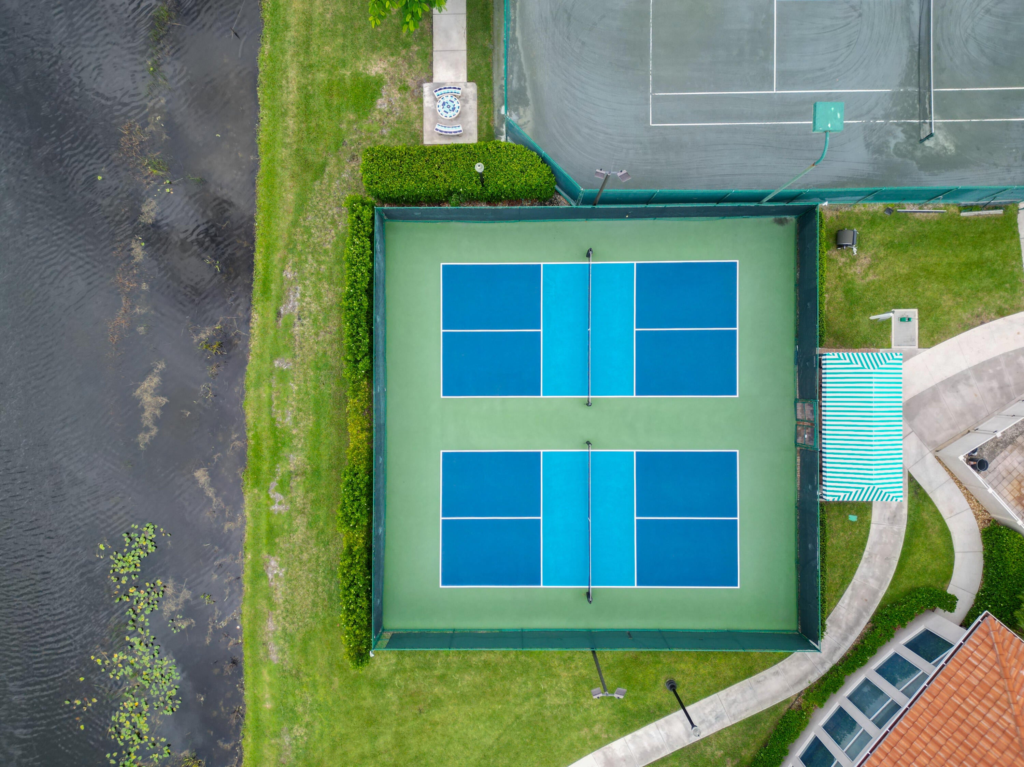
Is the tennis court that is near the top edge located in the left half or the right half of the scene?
right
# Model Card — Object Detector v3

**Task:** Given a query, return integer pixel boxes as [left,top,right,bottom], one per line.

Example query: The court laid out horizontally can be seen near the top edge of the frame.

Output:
[494,0,1024,205]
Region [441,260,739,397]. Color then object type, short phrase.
blue sports court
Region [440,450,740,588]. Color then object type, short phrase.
blue sports court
